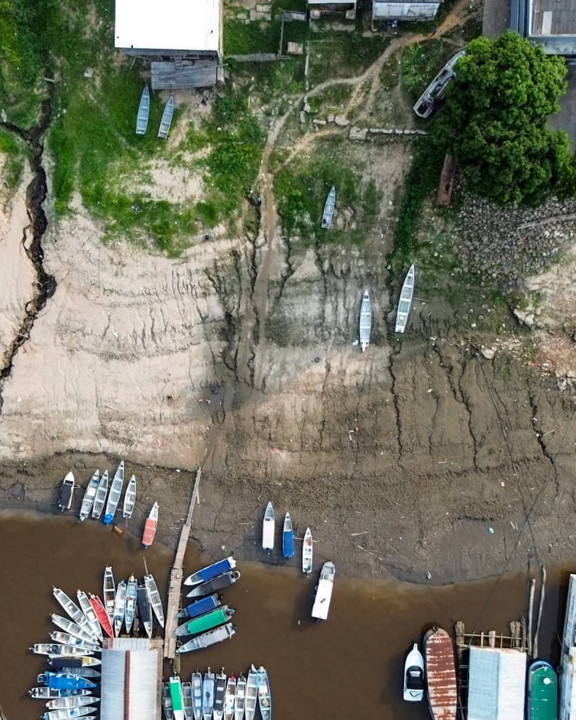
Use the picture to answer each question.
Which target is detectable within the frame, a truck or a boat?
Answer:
boat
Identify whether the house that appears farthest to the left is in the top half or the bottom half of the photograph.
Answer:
bottom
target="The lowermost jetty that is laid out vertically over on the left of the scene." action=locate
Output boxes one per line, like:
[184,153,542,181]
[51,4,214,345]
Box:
[163,583,182,658]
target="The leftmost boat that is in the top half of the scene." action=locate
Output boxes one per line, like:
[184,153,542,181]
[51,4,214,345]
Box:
[135,84,149,134]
